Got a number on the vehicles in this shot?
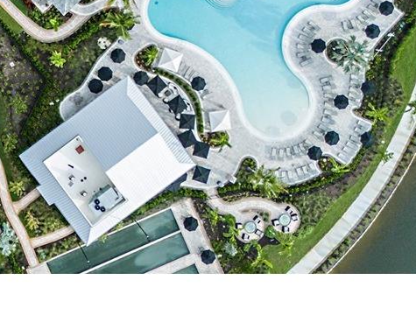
0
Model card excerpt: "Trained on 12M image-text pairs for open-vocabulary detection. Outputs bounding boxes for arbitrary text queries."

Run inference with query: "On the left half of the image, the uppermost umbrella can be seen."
[110,48,127,64]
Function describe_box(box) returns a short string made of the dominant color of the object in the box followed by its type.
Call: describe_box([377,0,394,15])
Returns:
black umbrella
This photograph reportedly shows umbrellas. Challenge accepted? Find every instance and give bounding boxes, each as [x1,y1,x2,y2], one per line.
[309,38,325,54]
[166,93,188,116]
[190,164,211,184]
[377,0,394,15]
[96,66,112,81]
[133,70,149,86]
[182,215,197,231]
[190,76,205,91]
[146,75,168,97]
[322,131,339,146]
[306,145,322,160]
[355,130,373,146]
[176,129,197,149]
[88,78,102,93]
[190,139,212,160]
[361,23,380,39]
[178,113,195,130]
[331,93,348,109]
[110,48,127,64]
[359,80,376,96]
[199,248,216,264]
